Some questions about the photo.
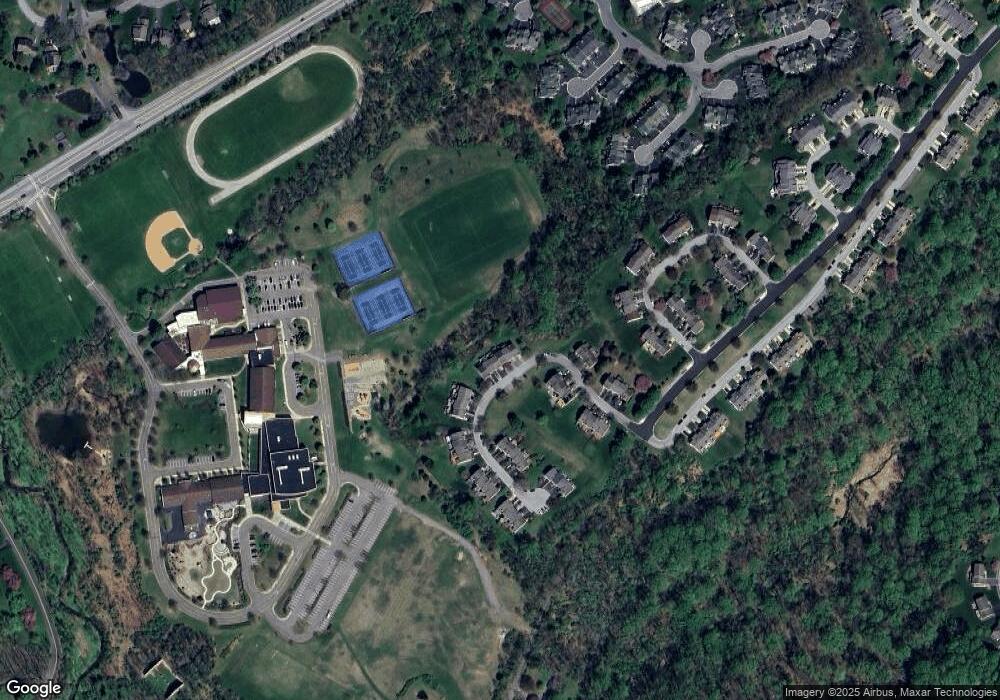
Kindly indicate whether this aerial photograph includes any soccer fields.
Yes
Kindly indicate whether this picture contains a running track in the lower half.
No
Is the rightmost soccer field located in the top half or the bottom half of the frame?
top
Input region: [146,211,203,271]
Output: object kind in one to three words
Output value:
baseball field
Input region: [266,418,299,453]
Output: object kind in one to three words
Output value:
building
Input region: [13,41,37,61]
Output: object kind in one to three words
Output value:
house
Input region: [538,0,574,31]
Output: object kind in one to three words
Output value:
tennis court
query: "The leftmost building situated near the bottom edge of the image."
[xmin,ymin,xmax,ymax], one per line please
[143,660,184,700]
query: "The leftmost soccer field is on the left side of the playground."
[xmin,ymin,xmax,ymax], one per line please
[0,216,86,376]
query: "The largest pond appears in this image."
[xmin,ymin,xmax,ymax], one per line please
[37,411,92,461]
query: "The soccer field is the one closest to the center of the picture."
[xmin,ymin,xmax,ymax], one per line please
[398,165,537,302]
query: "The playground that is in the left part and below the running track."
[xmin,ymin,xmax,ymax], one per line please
[344,356,388,421]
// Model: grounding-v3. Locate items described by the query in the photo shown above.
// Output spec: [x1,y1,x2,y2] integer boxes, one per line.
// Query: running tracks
[187,45,364,204]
